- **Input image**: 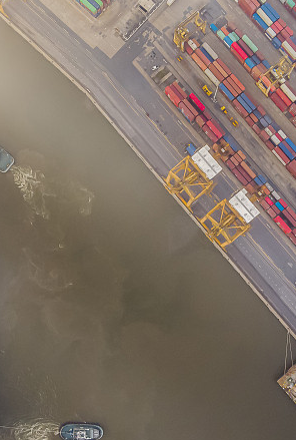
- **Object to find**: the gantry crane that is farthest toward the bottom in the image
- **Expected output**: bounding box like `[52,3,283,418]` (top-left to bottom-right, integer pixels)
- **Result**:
[198,184,269,249]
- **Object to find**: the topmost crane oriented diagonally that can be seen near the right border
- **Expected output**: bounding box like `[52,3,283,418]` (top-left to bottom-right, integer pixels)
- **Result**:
[253,59,296,102]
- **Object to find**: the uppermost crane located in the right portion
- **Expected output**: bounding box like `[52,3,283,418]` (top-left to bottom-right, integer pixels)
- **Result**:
[170,12,208,53]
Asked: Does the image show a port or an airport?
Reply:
port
